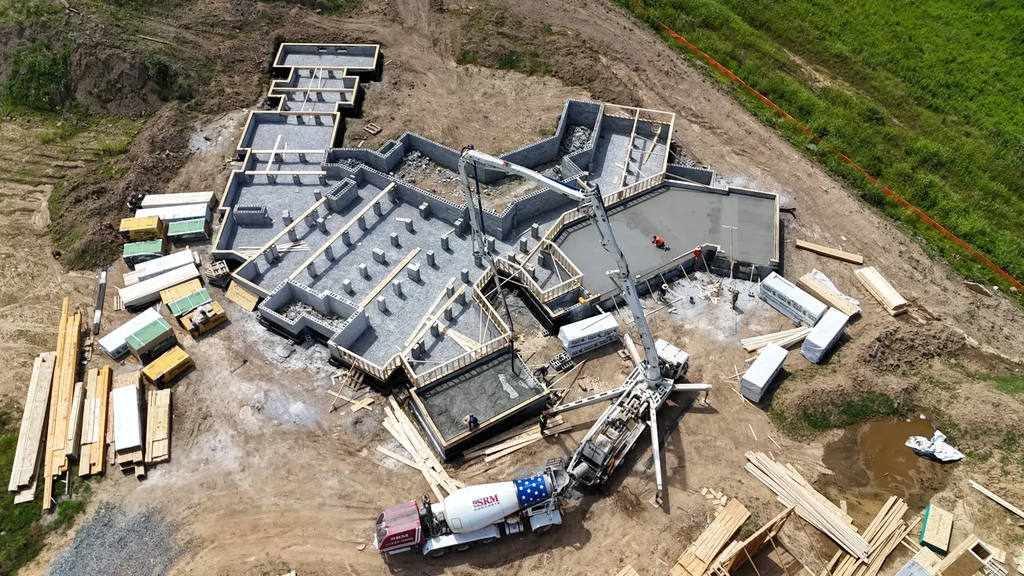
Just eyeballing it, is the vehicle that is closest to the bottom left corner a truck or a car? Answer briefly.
truck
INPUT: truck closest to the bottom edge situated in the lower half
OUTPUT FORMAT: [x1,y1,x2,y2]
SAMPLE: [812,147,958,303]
[370,452,585,565]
